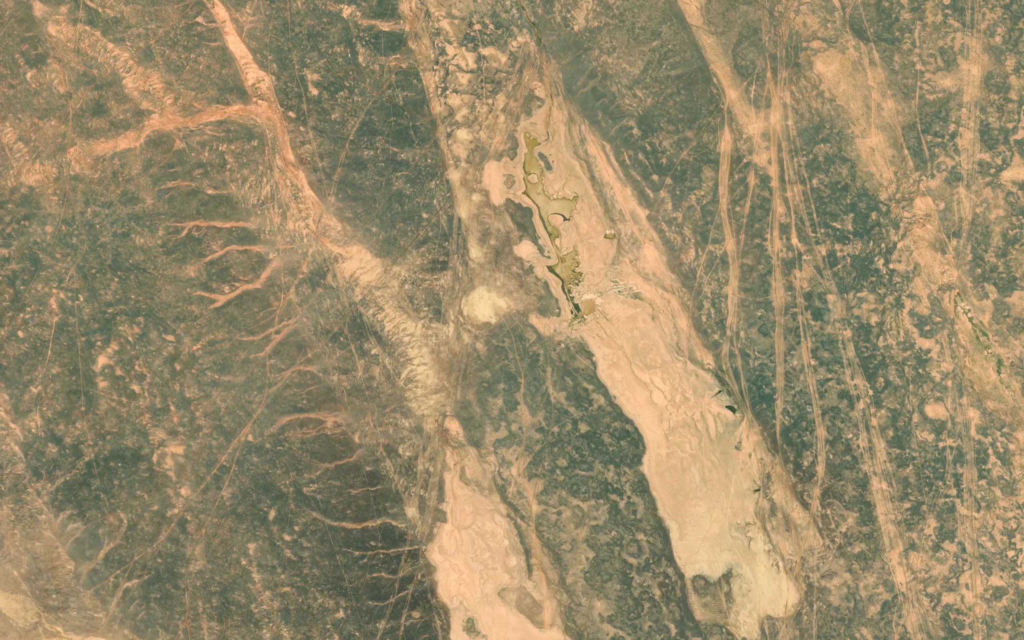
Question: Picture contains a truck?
No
